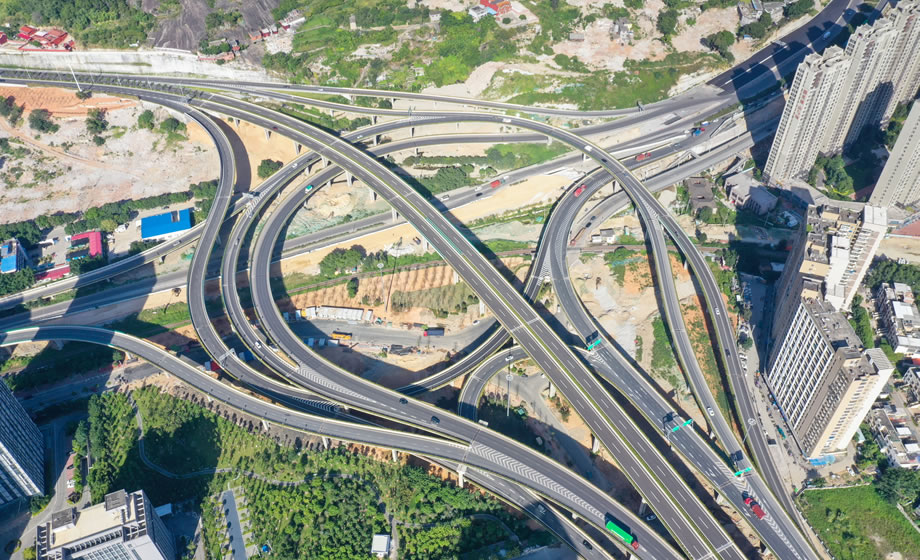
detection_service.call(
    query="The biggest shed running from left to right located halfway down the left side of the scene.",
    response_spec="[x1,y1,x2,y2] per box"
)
[141,210,192,242]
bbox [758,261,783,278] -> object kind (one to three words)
shed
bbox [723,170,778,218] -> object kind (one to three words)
building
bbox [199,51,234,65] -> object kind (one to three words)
house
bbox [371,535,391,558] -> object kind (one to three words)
shed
